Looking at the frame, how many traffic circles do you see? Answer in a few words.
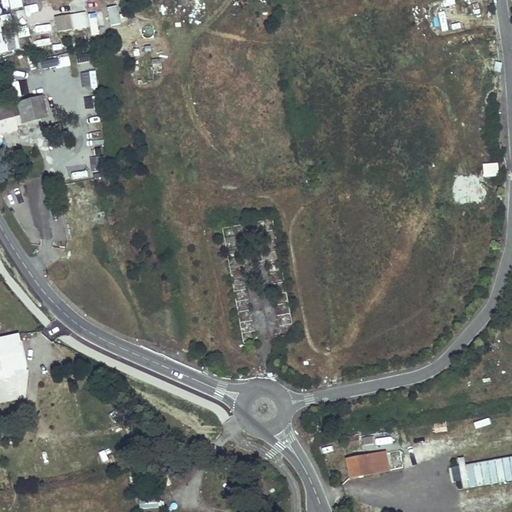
one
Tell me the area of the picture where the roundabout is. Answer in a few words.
bottom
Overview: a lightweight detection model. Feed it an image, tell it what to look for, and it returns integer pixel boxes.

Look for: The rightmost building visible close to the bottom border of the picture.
[466,454,512,489]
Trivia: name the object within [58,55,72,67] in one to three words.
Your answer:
vehicle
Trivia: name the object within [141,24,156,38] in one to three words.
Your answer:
swimming pool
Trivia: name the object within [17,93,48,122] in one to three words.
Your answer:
house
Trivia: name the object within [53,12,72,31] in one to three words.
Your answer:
shed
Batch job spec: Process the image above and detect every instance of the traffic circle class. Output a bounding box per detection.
[196,374,318,466]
